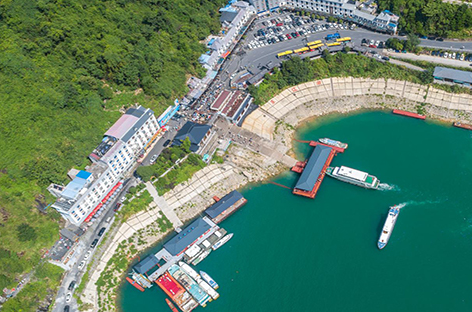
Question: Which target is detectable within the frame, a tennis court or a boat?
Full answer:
The one in the frame is a boat.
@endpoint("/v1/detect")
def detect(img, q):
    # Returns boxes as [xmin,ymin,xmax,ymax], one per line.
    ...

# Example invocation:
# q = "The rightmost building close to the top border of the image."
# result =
[379,11,401,34]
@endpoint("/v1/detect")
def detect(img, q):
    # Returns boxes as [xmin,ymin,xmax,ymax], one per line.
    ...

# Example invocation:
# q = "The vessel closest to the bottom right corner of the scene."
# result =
[380,204,401,249]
